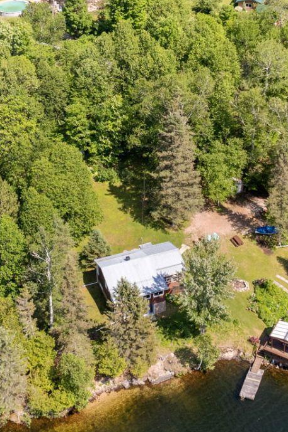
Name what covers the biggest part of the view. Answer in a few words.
trees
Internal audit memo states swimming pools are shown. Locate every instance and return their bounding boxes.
[0,1,26,19]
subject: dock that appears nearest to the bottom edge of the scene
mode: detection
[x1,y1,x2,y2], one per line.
[238,368,264,403]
